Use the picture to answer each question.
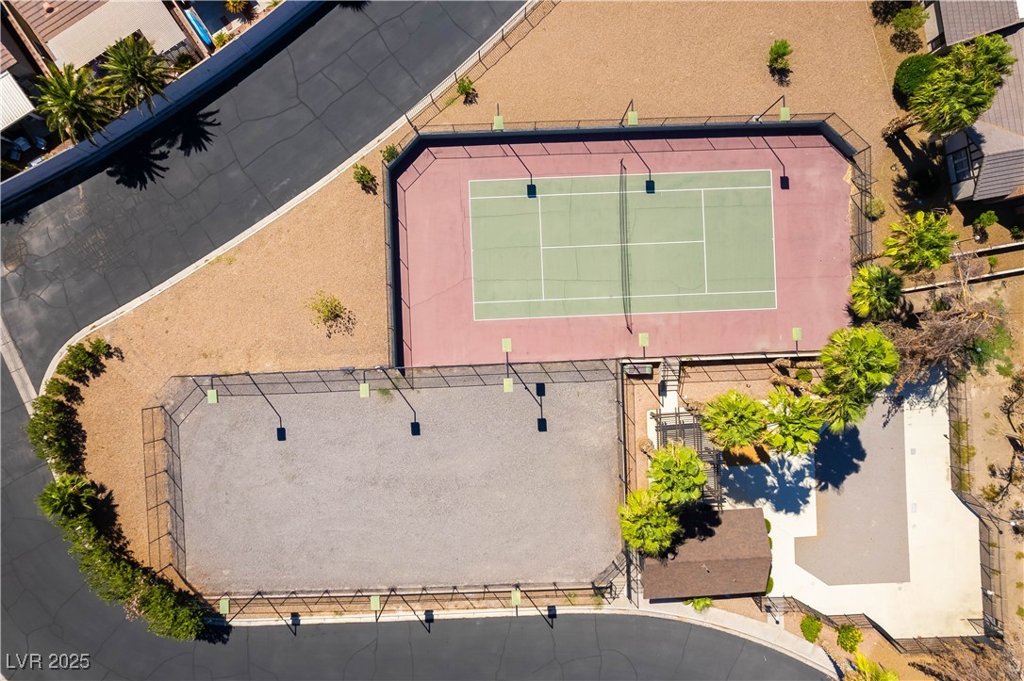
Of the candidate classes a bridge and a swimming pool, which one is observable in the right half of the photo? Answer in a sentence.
The one visible in the right half of the photo is a swimming pool.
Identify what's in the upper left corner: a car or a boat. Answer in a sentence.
It is a boat that can be seen in the upper left corner.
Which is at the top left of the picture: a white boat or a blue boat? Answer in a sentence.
You can see a blue boat at the top left of the picture.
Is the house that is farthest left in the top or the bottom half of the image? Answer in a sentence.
The house that is farthest left is in the top half of the image.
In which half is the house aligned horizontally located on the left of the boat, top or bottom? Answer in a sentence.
It is in the top half that the house aligned horizontally located on the left of the boat appears.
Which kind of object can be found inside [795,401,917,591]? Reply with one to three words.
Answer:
swimming pool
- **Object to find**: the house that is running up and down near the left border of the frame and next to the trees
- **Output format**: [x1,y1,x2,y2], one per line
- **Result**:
[0,39,51,144]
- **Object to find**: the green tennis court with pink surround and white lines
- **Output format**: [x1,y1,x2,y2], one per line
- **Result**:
[392,126,853,369]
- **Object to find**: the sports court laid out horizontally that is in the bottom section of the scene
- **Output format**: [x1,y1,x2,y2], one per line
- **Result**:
[163,363,620,595]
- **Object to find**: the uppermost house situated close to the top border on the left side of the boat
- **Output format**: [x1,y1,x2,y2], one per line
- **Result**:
[11,0,199,83]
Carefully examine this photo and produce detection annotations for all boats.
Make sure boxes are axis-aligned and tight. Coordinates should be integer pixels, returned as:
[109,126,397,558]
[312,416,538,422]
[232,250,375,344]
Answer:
[187,8,212,45]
